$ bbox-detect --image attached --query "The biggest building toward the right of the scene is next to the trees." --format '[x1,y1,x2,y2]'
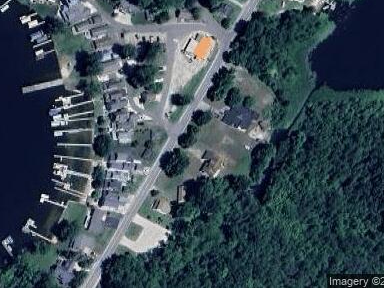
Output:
[224,106,260,130]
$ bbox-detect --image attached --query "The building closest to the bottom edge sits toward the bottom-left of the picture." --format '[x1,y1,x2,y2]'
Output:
[56,260,77,288]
